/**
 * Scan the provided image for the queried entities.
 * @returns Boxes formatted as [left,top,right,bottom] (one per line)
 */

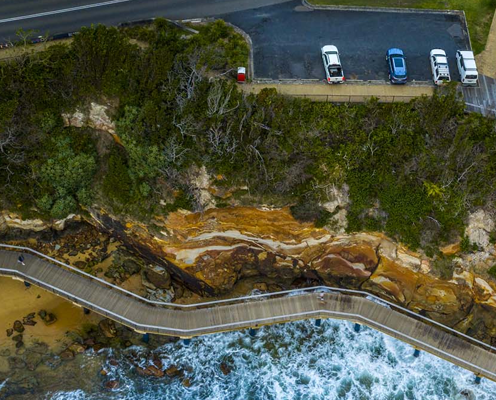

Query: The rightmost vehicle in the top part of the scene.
[455,46,481,81]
